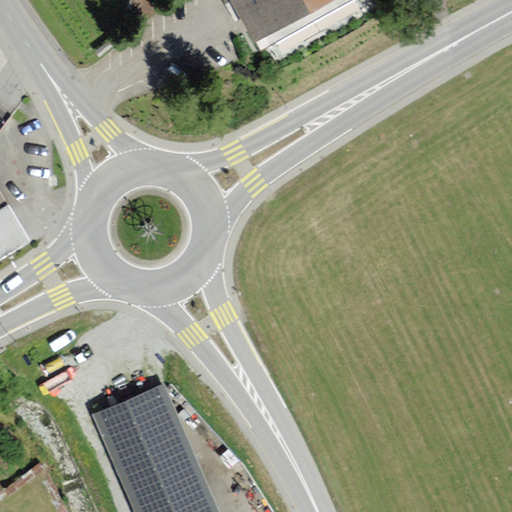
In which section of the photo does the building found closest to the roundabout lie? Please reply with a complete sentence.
The building found closest to the roundabout appears toward the left of the photo.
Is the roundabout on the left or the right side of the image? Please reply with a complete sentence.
The roundabout appears in the left half of the scene.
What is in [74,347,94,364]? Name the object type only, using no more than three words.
work vehicle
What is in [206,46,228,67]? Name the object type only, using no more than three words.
car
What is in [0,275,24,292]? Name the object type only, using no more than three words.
vehicle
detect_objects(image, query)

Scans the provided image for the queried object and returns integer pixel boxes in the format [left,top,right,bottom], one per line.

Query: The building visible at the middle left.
[0,204,30,260]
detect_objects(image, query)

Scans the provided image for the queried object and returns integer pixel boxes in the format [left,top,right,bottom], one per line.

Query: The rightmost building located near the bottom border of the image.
[92,384,220,512]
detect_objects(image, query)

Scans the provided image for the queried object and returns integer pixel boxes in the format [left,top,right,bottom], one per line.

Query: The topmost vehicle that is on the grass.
[49,331,76,352]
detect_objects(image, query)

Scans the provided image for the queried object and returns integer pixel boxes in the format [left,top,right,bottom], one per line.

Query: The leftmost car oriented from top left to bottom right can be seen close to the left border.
[5,181,25,200]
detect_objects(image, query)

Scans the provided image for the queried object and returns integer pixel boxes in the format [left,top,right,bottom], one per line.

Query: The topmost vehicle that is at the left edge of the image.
[20,120,42,134]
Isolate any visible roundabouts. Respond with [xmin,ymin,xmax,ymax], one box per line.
[70,147,230,308]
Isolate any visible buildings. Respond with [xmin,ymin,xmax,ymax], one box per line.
[92,40,115,60]
[92,384,220,512]
[0,464,64,512]
[0,204,30,260]
[226,0,370,61]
